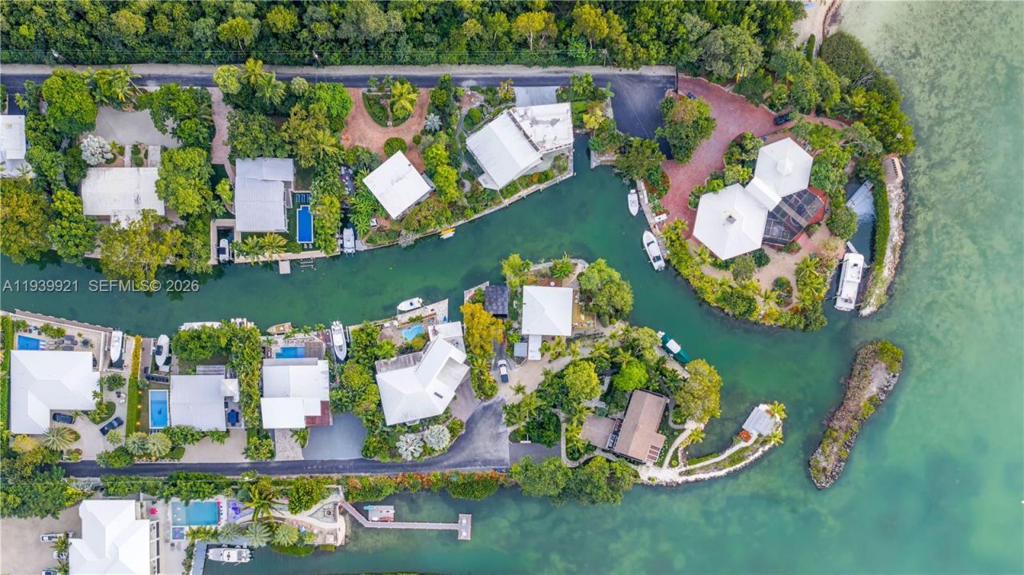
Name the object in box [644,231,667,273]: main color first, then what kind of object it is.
white boat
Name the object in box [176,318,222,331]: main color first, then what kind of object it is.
white boat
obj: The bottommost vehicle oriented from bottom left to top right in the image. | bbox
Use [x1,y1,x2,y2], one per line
[96,416,124,438]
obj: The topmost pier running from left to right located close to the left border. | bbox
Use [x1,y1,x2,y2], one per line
[13,309,110,332]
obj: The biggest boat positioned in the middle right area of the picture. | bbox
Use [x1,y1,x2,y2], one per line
[836,252,867,313]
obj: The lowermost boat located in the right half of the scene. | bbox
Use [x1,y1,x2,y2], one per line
[660,333,689,361]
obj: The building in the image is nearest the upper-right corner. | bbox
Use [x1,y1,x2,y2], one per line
[690,137,813,260]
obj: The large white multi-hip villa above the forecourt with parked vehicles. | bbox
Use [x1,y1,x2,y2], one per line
[68,495,172,575]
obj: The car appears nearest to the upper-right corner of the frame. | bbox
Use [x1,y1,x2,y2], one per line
[773,109,795,125]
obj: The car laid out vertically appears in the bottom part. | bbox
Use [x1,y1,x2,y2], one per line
[497,359,511,384]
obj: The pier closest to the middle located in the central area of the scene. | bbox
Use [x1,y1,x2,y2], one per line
[397,299,448,325]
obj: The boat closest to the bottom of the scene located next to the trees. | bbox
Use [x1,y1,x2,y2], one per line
[206,547,251,564]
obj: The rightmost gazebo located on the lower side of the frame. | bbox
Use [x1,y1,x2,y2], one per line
[739,406,775,436]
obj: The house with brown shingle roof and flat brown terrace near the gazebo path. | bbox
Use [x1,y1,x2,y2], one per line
[582,388,669,464]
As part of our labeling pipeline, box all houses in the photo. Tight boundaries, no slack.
[690,137,813,260]
[79,168,168,225]
[68,495,172,575]
[582,388,669,464]
[466,102,573,189]
[376,322,469,425]
[261,357,333,428]
[168,364,232,430]
[233,157,299,233]
[521,285,573,360]
[0,115,34,177]
[364,150,436,221]
[10,350,107,434]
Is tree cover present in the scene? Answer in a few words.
Yes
